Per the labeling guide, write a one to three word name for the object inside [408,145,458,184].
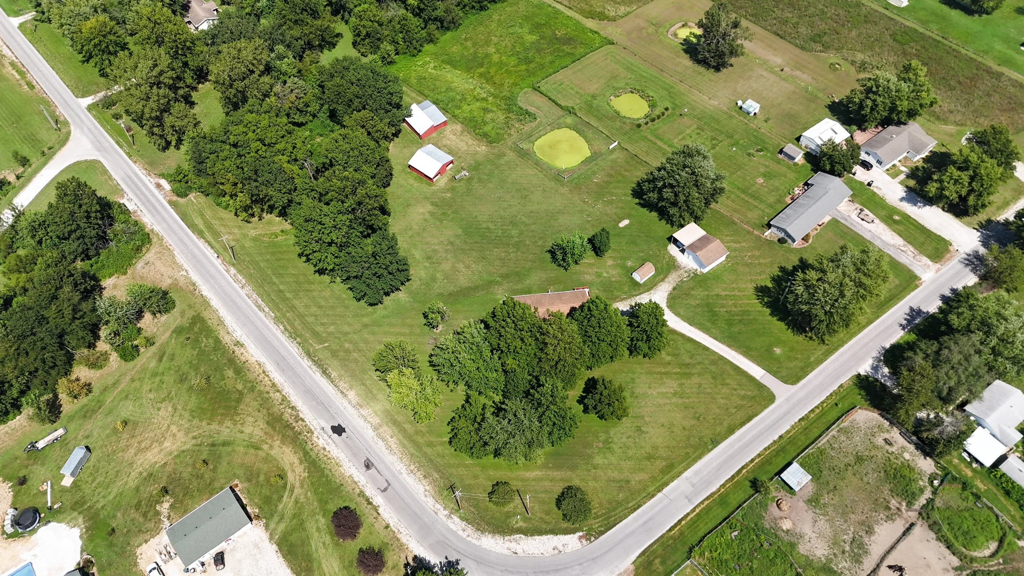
barn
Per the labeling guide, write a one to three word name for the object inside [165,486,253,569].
building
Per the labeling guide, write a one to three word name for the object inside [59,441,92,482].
trailer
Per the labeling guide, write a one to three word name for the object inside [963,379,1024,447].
house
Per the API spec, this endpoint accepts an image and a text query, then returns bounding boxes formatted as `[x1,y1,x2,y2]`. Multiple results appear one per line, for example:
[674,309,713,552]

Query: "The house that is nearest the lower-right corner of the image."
[994,454,1024,499]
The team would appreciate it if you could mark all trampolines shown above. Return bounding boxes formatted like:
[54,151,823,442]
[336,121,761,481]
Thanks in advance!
[9,505,39,530]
